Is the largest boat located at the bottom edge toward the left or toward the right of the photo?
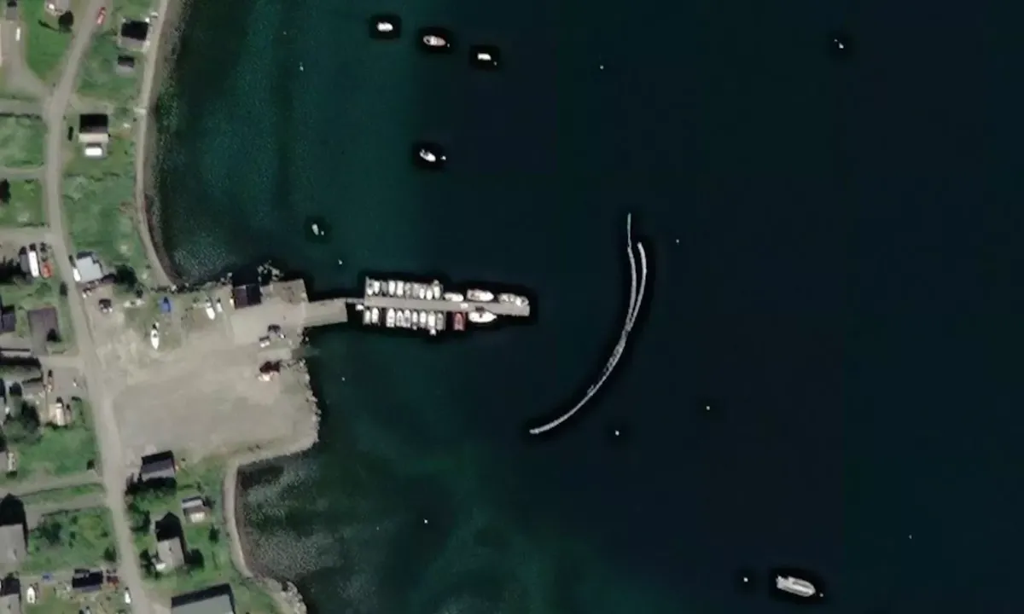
right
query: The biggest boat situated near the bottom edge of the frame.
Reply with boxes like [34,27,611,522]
[774,575,815,596]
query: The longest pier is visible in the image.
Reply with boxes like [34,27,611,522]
[365,276,530,329]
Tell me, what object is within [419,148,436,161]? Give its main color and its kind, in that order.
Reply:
white boat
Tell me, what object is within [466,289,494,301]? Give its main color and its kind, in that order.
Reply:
white boat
